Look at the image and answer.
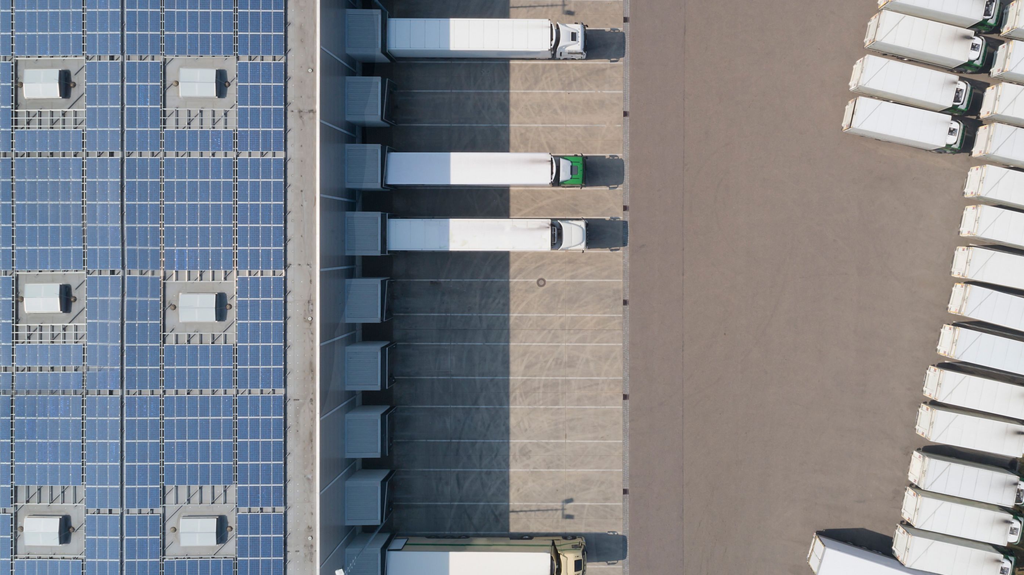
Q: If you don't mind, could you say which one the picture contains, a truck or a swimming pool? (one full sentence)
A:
It is a truck that can be seen here.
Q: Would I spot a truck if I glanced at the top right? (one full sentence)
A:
Yes, you'll find a truck at the top right.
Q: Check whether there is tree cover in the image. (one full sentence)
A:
No, there's no tree cover in this view.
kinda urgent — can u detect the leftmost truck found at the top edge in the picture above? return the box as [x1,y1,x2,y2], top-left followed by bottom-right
[388,18,590,61]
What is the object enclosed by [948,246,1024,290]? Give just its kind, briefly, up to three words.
truck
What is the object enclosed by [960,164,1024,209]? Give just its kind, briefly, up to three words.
truck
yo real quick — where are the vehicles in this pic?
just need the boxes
[912,402,1024,459]
[845,54,972,118]
[995,0,1024,42]
[897,485,1024,547]
[984,40,1024,86]
[838,96,964,157]
[945,282,1024,328]
[889,523,1016,575]
[975,82,1024,128]
[862,10,989,74]
[904,449,1024,510]
[388,18,590,61]
[934,323,1024,373]
[960,164,1024,209]
[920,364,1024,417]
[388,215,590,254]
[878,0,1003,34]
[388,150,590,189]
[388,534,590,575]
[967,123,1024,169]
[955,204,1024,248]
[948,246,1024,290]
